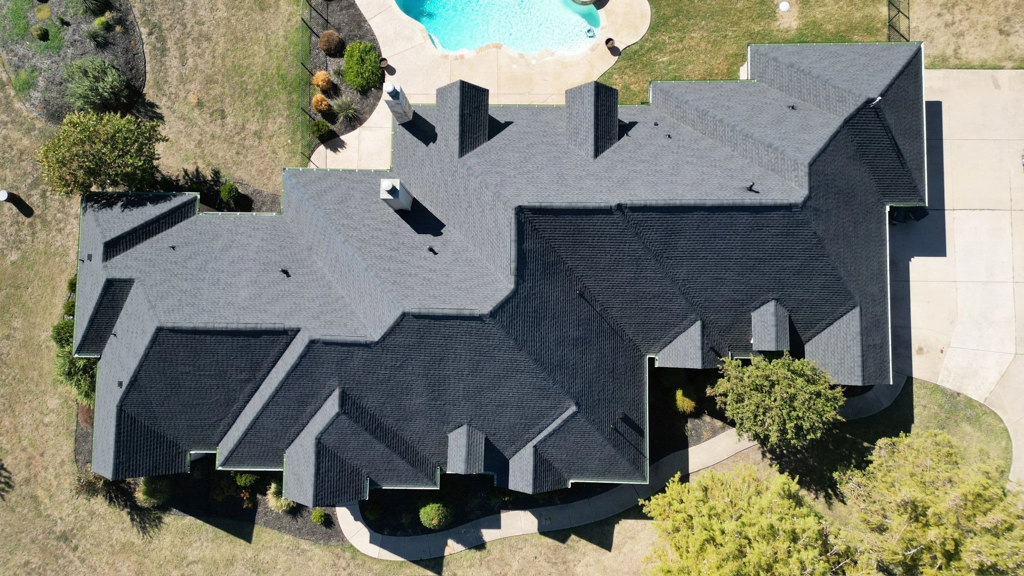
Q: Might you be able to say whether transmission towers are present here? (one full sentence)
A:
No, there appears to be no transmission tower in this shot.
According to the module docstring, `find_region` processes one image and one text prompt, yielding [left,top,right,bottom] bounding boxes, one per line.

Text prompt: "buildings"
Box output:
[71,40,929,508]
